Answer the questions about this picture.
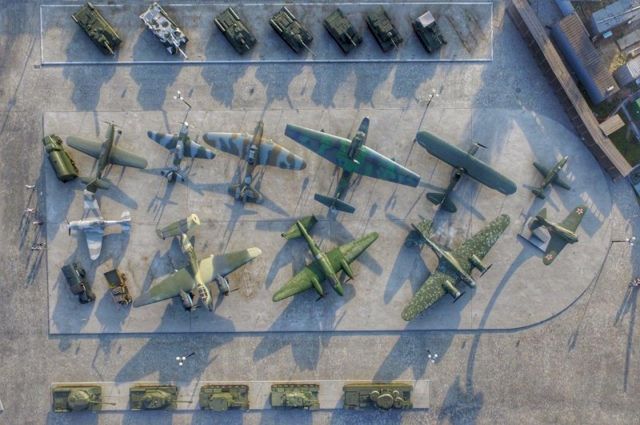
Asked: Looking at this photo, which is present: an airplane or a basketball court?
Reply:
airplane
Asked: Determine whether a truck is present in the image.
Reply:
Yes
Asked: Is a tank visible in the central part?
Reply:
No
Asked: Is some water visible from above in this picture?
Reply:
No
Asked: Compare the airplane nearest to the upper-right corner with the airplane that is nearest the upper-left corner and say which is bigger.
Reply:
the airplane that is nearest the upper-left corner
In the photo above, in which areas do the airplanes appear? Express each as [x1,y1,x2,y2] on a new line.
[131,214,262,314]
[272,211,380,300]
[284,113,422,212]
[403,216,509,319]
[64,190,133,261]
[530,204,585,266]
[416,133,517,214]
[145,121,214,182]
[63,121,145,191]
[202,118,308,199]
[532,157,572,202]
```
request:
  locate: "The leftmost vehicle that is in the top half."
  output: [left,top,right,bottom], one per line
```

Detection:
[44,136,78,182]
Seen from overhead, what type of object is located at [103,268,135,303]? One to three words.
truck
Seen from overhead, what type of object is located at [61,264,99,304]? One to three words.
truck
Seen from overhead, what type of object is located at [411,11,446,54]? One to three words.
work vehicle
